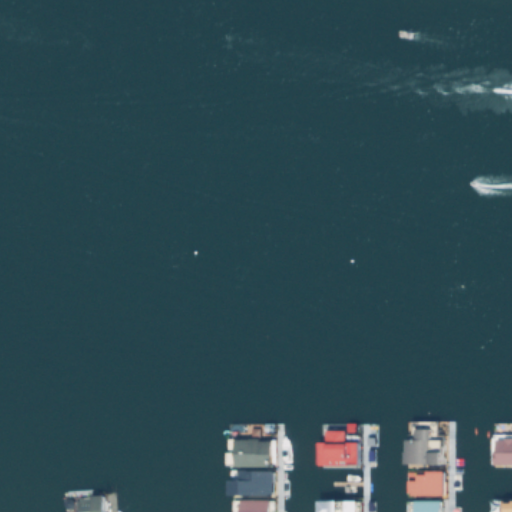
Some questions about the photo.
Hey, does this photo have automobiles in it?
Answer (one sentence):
No, no automobile is visible in the view.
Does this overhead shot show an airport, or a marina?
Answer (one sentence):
It's a marina.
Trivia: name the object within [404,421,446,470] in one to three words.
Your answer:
house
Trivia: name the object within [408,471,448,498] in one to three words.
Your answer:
house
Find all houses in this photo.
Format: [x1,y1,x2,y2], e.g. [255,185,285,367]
[232,500,277,512]
[64,489,110,512]
[490,501,512,512]
[226,438,278,469]
[404,421,446,470]
[316,423,361,470]
[316,501,362,512]
[491,434,512,468]
[408,501,446,512]
[408,471,448,498]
